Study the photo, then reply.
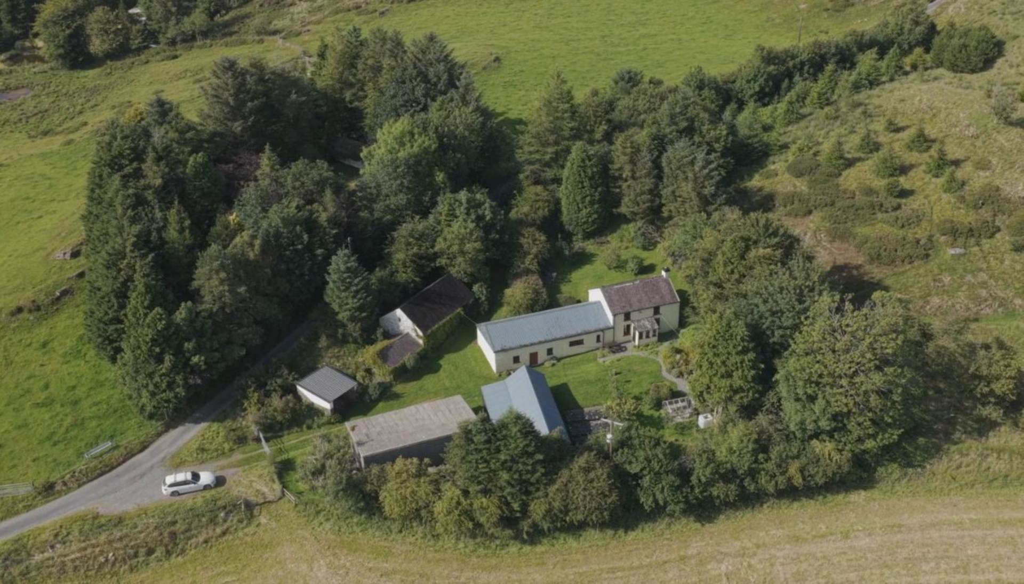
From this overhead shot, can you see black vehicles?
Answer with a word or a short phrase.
No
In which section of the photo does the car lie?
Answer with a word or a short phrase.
bottom left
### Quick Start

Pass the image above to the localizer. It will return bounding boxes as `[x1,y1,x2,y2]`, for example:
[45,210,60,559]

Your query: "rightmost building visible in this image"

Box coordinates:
[587,263,683,344]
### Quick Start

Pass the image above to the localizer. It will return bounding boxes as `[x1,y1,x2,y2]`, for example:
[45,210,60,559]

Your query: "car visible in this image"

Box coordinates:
[162,467,217,494]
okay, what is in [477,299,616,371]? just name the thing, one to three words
shed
